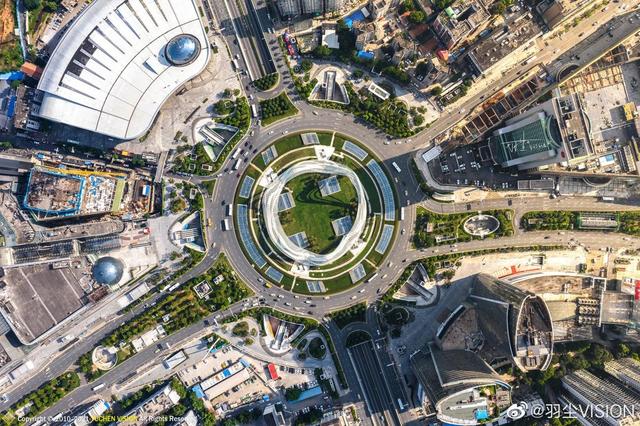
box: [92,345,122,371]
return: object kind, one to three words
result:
building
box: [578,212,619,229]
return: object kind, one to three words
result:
building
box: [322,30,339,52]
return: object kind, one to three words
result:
house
